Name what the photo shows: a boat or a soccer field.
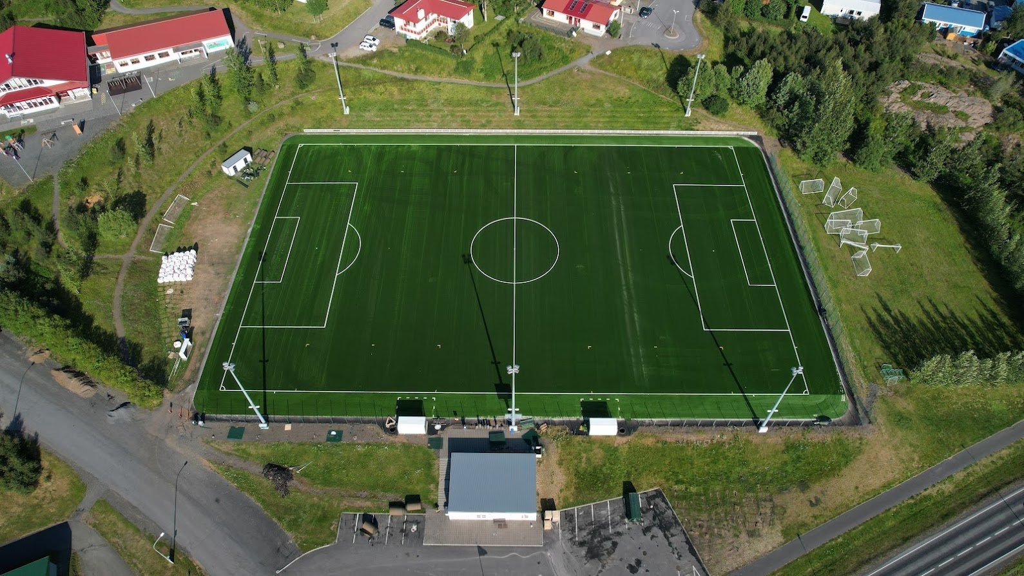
soccer field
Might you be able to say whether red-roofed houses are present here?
Yes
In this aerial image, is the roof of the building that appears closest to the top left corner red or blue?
red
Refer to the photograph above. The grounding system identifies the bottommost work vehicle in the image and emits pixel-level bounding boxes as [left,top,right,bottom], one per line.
[177,318,194,344]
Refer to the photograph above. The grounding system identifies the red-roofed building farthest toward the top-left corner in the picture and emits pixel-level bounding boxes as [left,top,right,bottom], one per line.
[0,25,97,123]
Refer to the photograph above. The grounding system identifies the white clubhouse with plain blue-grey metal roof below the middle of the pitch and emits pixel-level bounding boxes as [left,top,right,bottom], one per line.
[447,452,537,519]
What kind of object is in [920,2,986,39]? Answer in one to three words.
house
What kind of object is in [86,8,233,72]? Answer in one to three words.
building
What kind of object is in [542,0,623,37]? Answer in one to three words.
house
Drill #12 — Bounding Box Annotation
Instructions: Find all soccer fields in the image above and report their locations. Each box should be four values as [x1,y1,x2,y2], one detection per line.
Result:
[190,134,866,436]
